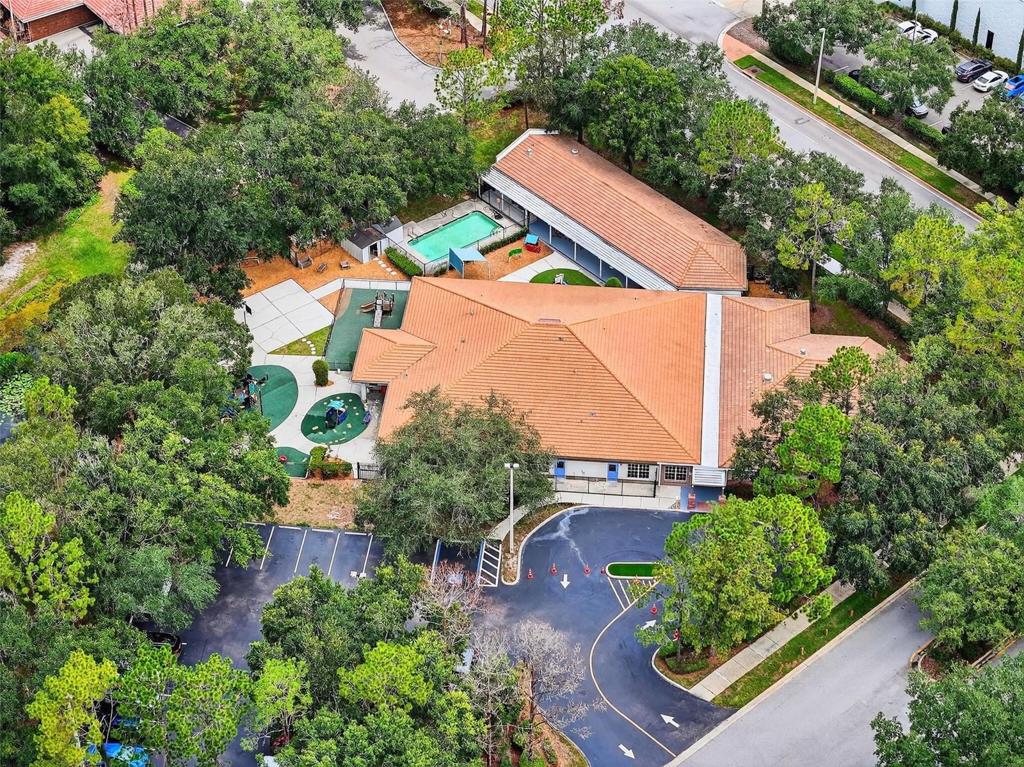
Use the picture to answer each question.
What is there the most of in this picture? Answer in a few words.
trees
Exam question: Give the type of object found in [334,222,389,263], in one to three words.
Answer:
shed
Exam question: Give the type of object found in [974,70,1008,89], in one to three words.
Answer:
car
